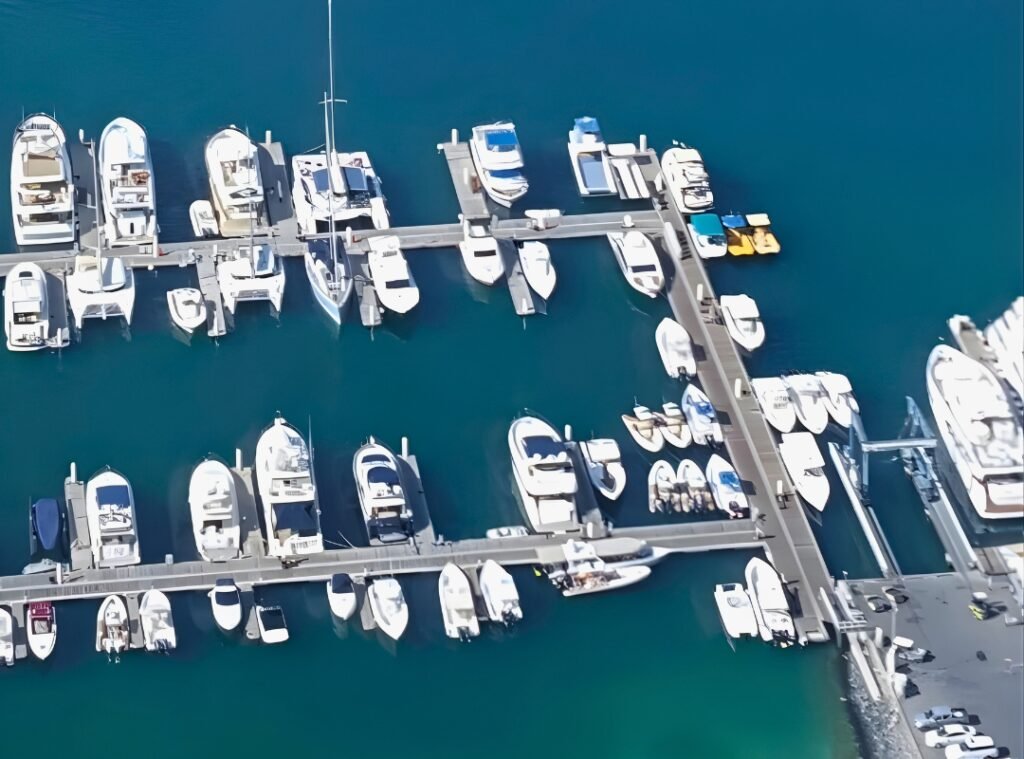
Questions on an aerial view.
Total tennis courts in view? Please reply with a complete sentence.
No tennis courts are visible.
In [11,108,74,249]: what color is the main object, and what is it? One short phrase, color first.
white boat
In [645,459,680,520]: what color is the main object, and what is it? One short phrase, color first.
white boat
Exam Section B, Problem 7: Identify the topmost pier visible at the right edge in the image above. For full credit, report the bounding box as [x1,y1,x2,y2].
[952,326,1010,402]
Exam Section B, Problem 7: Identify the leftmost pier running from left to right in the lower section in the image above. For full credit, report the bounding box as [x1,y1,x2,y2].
[0,518,764,603]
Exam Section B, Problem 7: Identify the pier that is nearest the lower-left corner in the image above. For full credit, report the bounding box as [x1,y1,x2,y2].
[13,604,26,661]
